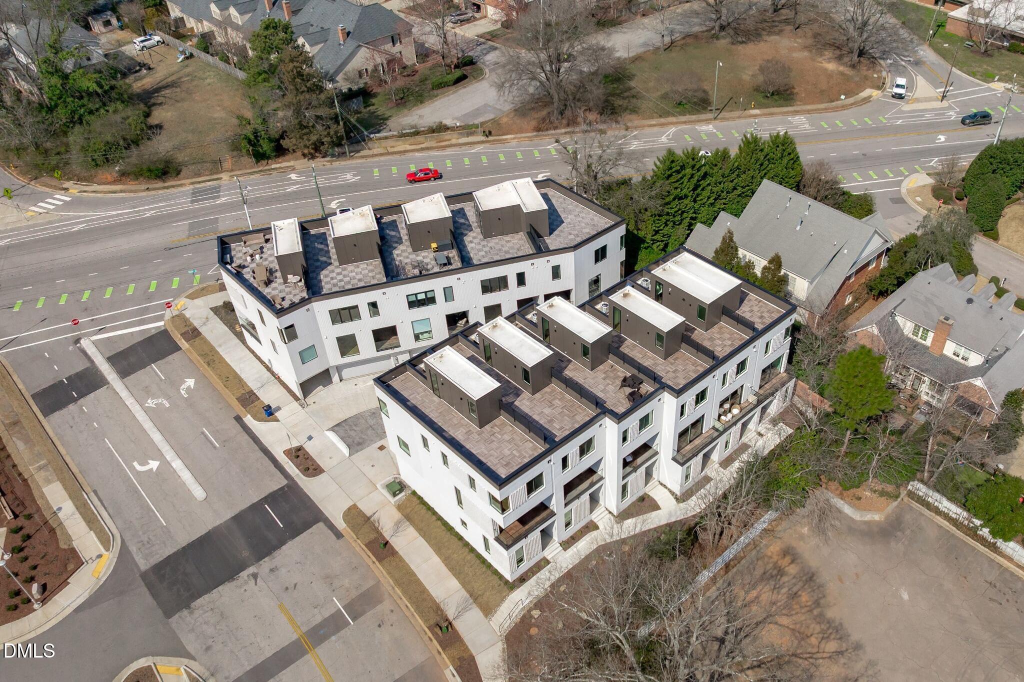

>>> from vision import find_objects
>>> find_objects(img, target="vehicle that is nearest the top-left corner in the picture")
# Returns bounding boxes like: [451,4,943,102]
[130,32,164,49]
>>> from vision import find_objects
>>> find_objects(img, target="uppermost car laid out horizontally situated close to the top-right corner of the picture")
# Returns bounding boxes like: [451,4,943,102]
[958,108,996,127]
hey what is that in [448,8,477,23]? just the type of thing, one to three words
car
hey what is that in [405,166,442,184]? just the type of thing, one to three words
car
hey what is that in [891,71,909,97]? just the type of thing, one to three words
vehicle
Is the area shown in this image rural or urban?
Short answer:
urban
